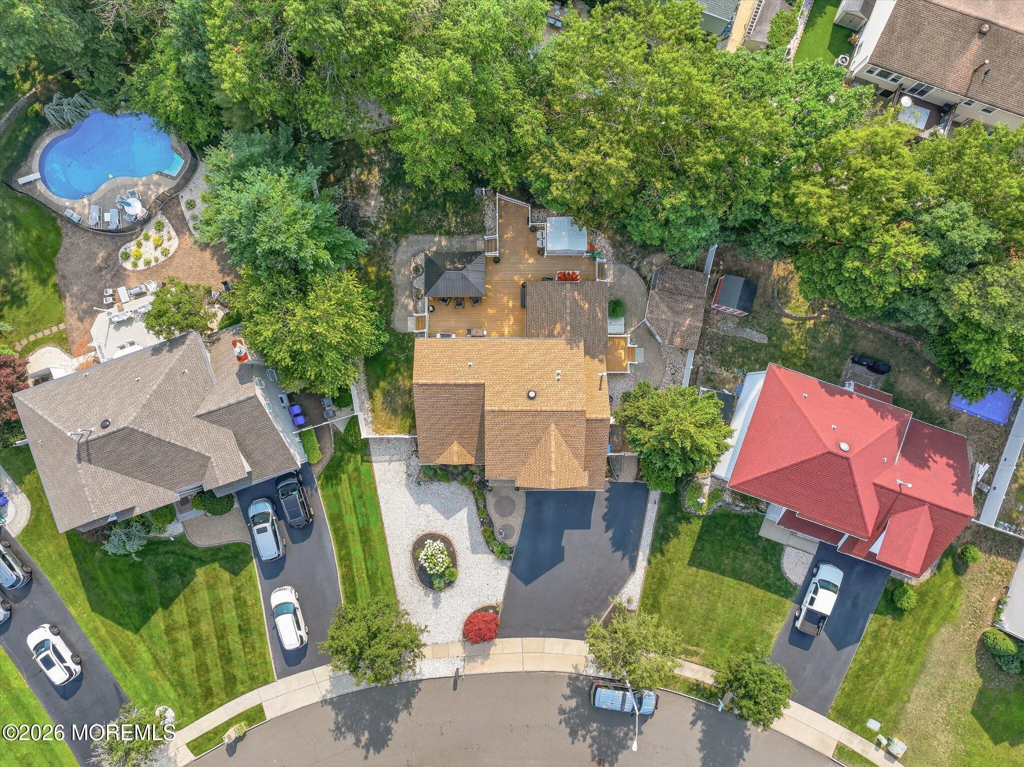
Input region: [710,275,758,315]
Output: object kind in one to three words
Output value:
shed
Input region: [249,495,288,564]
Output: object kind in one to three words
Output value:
car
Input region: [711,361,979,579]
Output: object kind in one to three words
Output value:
house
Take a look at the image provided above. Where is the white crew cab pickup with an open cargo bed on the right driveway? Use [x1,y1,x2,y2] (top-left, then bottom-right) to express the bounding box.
[794,560,843,641]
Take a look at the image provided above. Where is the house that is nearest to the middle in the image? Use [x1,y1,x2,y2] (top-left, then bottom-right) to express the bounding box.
[413,270,612,491]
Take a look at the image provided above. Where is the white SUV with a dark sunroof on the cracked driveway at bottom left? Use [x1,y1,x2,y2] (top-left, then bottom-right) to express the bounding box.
[32,619,83,688]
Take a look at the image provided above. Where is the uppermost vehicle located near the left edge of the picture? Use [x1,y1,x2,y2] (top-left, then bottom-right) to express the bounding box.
[0,534,30,598]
